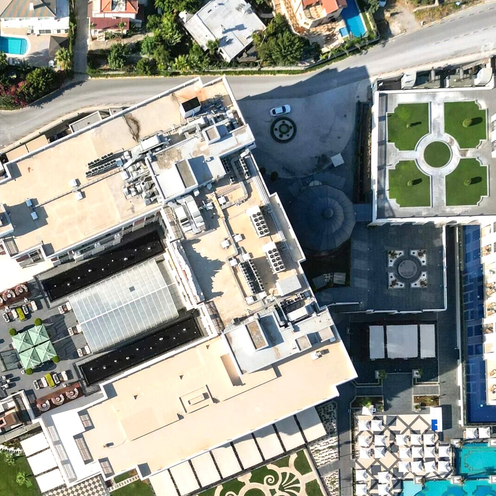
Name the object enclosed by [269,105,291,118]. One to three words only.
vehicle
